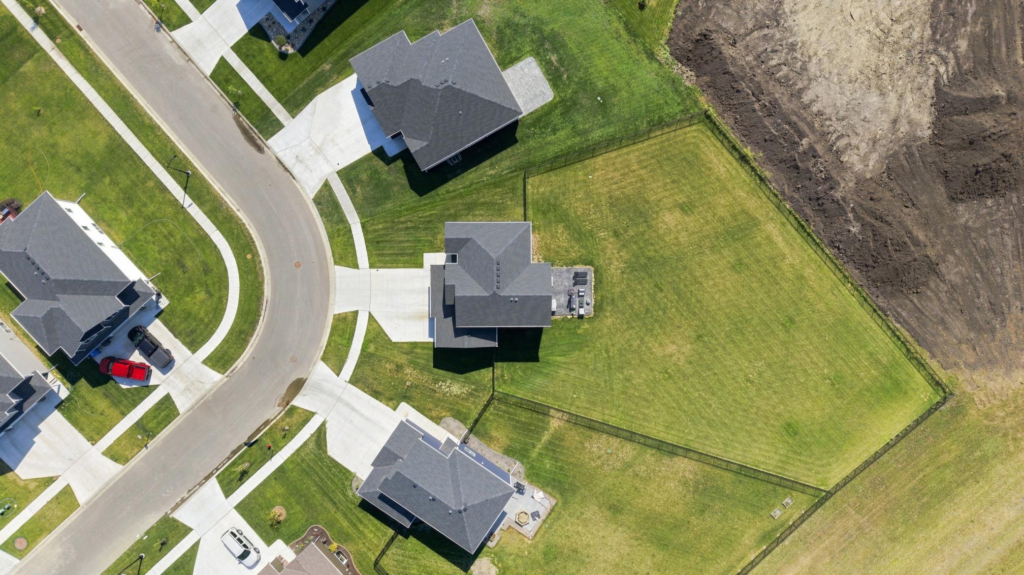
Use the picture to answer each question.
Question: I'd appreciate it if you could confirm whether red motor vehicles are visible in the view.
Yes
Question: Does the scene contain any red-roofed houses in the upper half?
No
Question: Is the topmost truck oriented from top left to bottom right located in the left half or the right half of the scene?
left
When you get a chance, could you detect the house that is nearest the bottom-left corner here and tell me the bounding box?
[0,320,59,437]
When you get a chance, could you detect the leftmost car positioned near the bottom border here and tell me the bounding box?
[220,528,261,570]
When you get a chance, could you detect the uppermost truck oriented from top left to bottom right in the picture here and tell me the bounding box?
[126,325,176,370]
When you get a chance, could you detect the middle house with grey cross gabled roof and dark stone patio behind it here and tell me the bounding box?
[430,221,557,348]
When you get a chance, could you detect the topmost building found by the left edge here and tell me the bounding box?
[0,190,161,367]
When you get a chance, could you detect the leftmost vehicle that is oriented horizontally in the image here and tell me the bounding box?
[100,356,155,381]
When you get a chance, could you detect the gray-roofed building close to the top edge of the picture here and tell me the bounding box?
[348,18,524,176]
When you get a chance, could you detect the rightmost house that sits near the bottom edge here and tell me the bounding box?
[355,419,518,555]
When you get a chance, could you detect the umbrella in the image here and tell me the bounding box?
[528,492,552,517]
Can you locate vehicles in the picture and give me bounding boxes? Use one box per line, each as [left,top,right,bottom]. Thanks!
[220,528,261,570]
[100,356,155,381]
[126,325,176,370]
